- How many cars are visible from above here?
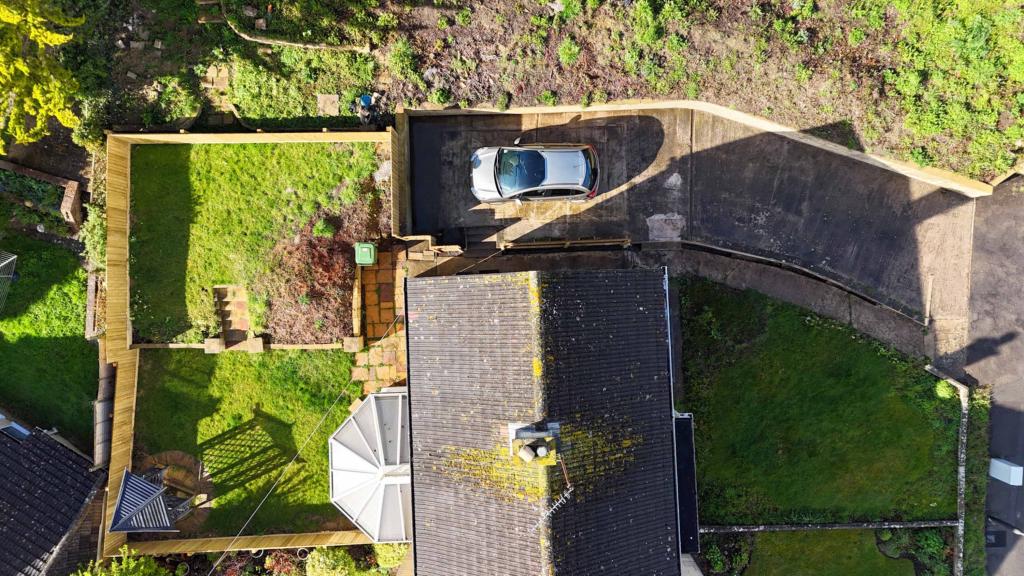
1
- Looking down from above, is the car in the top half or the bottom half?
top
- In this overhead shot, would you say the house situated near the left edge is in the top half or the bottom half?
bottom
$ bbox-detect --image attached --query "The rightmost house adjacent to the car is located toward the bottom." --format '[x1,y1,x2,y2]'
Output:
[397,252,702,576]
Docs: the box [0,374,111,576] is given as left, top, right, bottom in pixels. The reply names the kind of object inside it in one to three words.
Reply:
house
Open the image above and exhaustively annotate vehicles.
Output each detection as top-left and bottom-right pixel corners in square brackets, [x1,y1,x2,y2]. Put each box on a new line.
[467,135,602,207]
